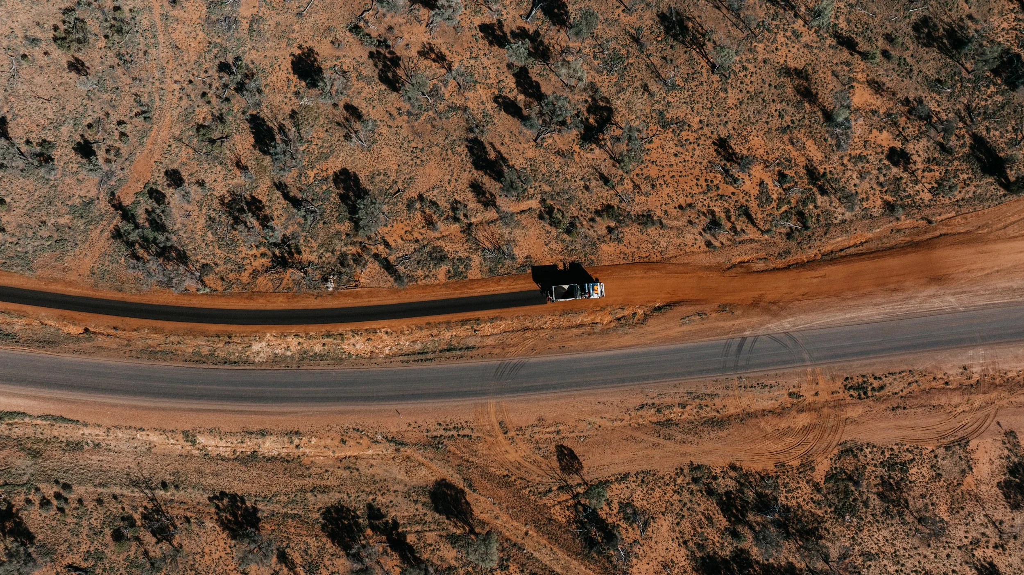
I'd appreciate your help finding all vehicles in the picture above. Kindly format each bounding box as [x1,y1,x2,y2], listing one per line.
[544,282,606,302]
